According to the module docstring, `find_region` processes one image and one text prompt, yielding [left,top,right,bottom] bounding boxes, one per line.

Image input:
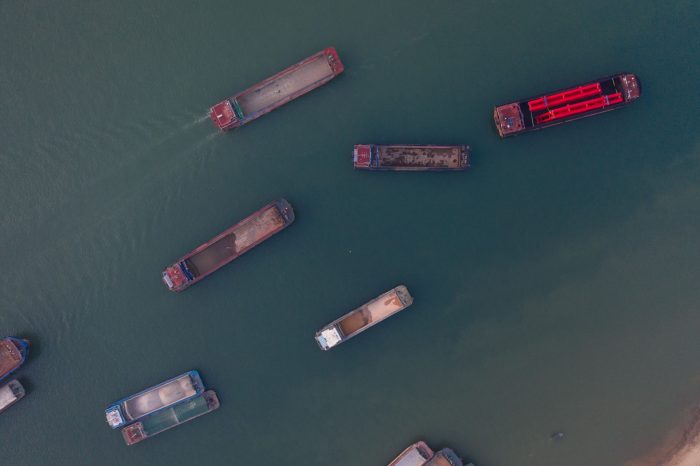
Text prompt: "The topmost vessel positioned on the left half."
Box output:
[209,46,344,132]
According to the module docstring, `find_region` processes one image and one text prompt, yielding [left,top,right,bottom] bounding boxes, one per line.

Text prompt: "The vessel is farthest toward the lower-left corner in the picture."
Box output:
[0,378,26,411]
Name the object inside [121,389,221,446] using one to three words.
ship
